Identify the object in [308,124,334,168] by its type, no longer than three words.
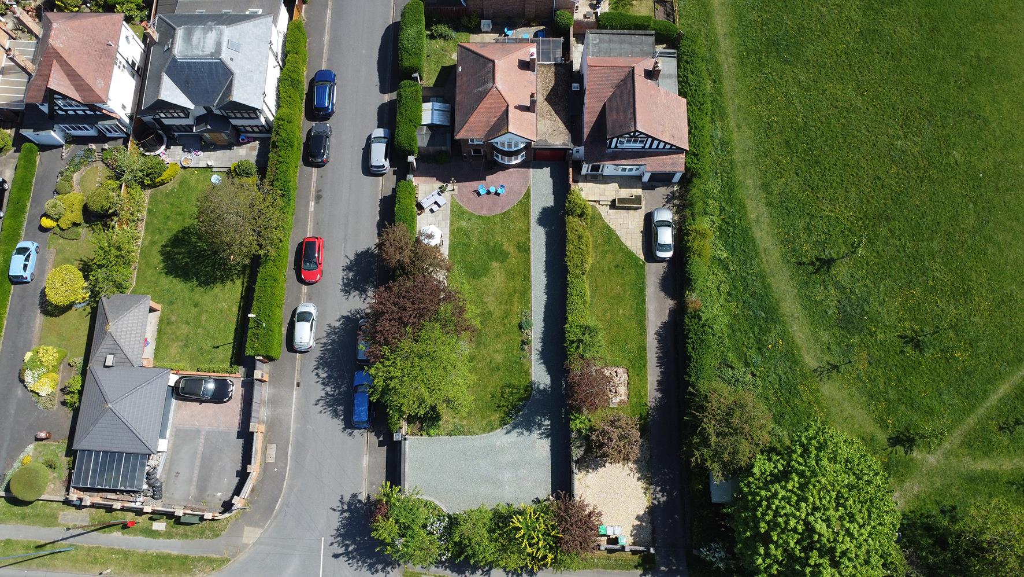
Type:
car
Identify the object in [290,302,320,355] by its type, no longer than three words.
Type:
car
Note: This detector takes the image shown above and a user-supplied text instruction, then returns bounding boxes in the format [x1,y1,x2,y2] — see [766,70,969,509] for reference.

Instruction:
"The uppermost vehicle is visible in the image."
[312,72,339,122]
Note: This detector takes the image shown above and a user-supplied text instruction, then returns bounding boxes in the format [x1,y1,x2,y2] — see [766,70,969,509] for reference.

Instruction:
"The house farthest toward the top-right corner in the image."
[571,29,692,180]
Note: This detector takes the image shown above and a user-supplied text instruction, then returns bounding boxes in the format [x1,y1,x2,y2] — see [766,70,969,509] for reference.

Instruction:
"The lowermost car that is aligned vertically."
[347,370,376,429]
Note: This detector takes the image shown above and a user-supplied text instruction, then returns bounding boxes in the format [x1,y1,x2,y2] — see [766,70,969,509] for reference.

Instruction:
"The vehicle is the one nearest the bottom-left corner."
[173,375,237,403]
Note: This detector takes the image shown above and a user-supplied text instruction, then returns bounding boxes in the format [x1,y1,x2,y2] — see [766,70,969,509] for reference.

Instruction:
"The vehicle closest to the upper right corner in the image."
[649,208,675,261]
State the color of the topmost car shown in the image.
blue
